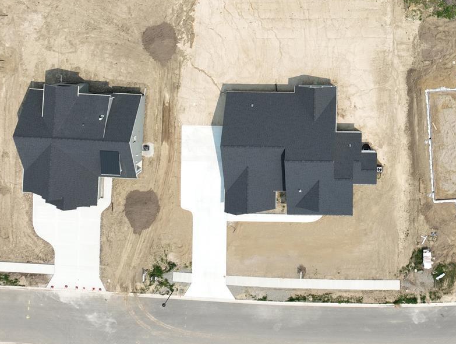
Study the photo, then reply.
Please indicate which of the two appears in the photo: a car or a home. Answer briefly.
home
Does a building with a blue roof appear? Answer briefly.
No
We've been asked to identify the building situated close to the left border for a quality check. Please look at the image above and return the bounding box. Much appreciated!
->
[12,83,144,212]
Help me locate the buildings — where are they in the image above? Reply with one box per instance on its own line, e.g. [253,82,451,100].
[221,86,377,216]
[12,83,144,212]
